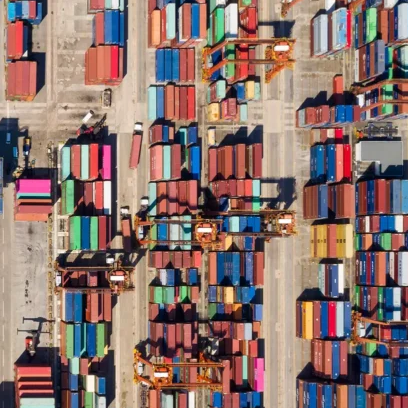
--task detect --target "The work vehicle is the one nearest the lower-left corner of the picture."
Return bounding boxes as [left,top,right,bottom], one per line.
[18,328,52,352]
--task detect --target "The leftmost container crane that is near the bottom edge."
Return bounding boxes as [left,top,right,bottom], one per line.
[136,348,225,389]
